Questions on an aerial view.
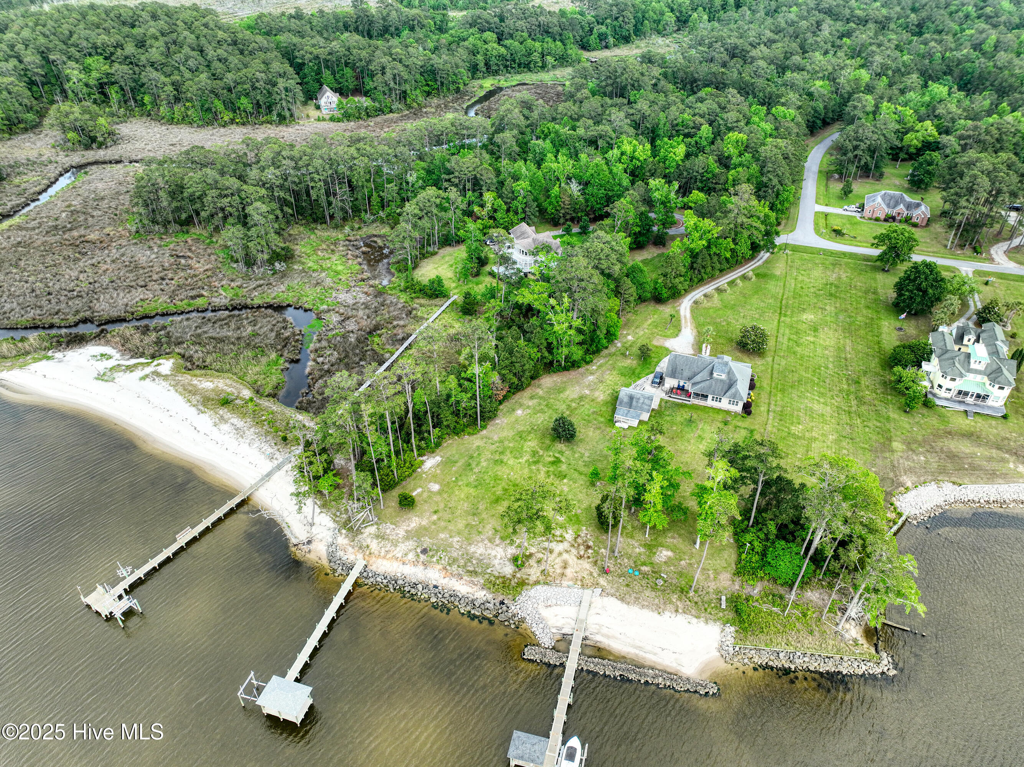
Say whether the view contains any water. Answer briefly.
Yes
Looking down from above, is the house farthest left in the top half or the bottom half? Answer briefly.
top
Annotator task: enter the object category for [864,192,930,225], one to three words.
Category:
house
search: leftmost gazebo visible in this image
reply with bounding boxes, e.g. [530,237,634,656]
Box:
[248,665,315,726]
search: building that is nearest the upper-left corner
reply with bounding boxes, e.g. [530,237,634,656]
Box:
[316,86,343,115]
